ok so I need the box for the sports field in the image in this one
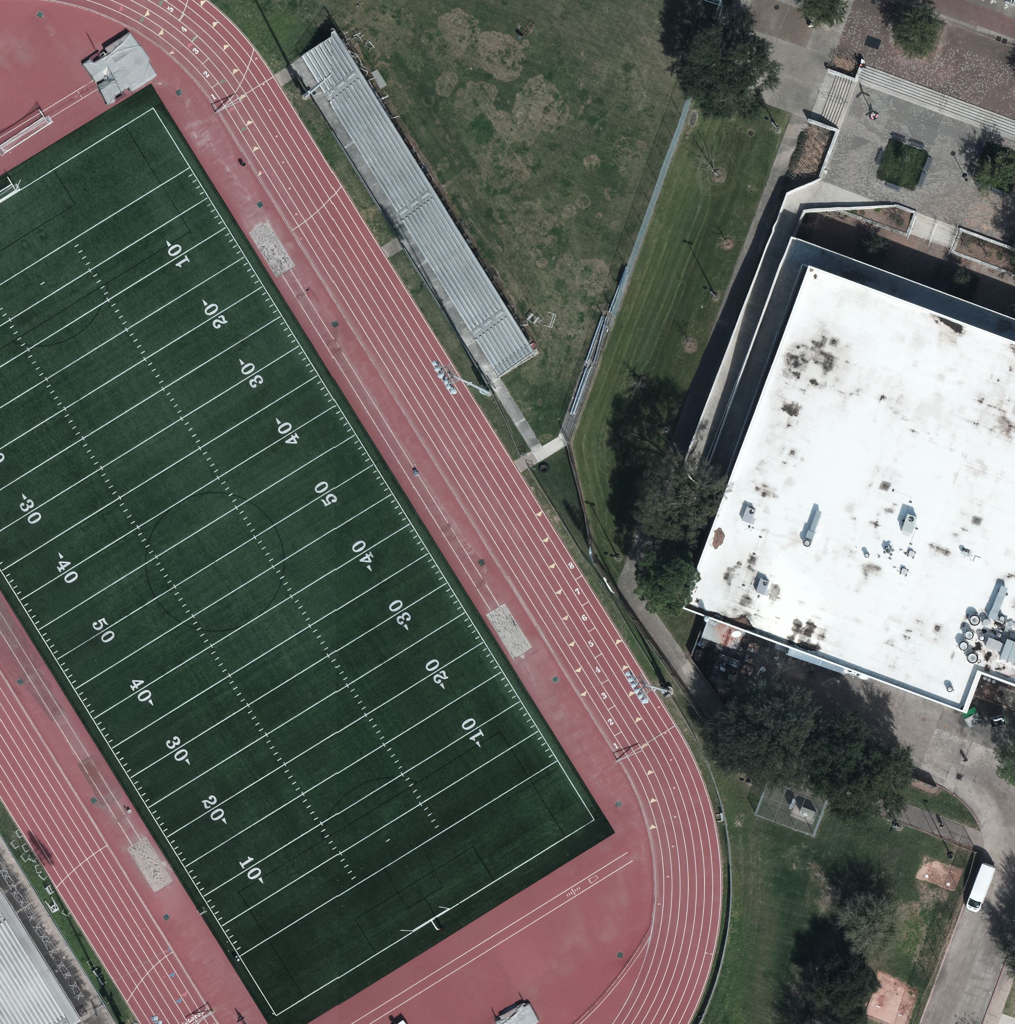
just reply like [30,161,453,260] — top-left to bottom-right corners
[0,83,614,1024]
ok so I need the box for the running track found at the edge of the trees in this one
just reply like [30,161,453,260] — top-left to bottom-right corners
[0,0,722,1024]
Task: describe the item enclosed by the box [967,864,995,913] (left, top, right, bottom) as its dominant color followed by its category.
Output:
white van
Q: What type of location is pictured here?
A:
sports ground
